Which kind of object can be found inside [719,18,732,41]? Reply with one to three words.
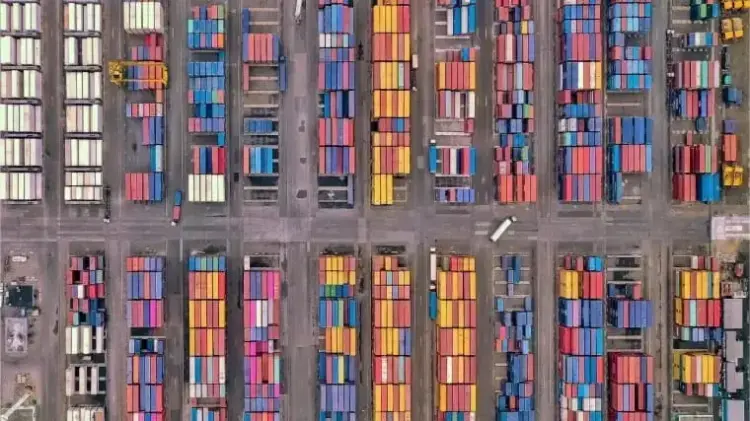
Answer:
vehicle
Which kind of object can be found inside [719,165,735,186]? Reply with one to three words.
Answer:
work vehicle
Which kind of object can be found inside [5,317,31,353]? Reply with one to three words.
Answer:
building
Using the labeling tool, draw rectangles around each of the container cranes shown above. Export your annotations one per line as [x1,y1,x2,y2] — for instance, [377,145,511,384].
[110,62,171,94]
